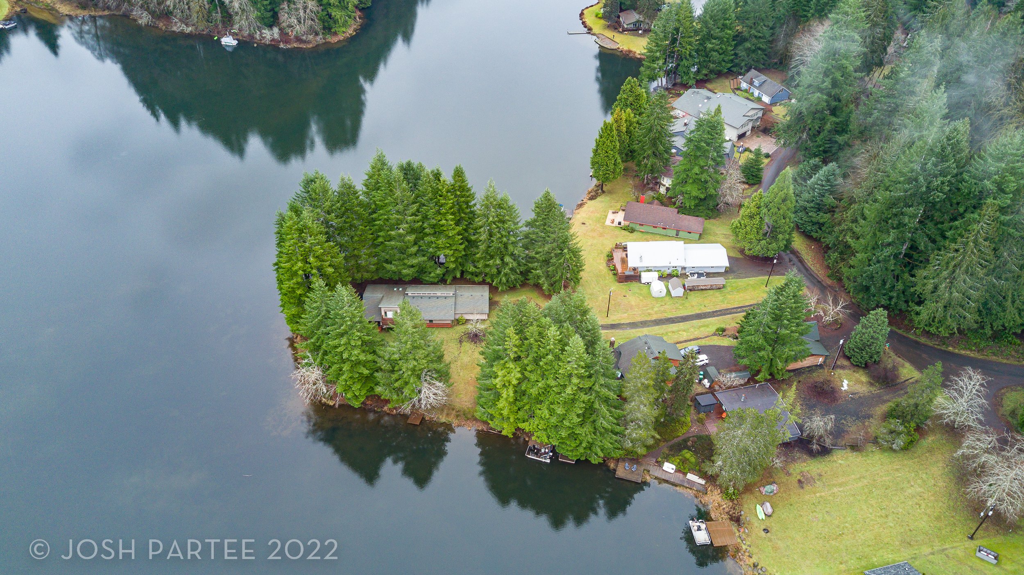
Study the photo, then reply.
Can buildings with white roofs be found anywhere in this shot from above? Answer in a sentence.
Yes, the image includes a building with a white roof.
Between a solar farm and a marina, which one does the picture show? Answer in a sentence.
This image shows a marina.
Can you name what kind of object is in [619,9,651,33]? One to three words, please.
house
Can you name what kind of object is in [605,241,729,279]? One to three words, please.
house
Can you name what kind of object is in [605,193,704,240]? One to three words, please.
building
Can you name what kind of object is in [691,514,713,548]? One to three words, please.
boat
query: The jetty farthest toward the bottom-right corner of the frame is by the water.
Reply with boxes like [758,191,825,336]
[705,521,738,549]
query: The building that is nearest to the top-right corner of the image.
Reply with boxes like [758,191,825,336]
[731,69,791,105]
